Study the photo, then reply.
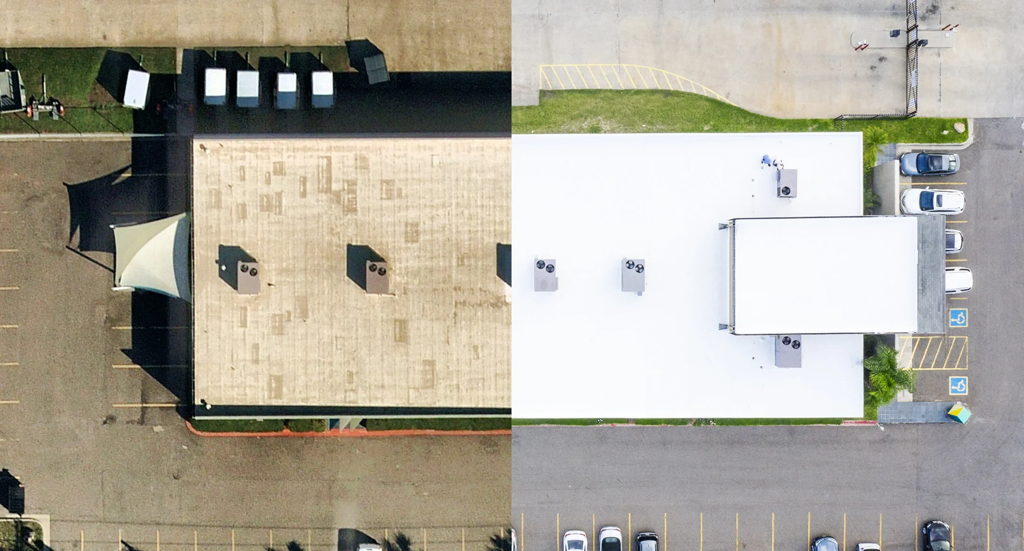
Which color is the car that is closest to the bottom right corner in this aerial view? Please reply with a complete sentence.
The car that is closest to the bottom right corner is black.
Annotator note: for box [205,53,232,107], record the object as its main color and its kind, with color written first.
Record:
white trailer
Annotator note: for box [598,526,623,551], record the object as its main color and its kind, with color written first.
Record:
white car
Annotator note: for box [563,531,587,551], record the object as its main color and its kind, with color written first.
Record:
white car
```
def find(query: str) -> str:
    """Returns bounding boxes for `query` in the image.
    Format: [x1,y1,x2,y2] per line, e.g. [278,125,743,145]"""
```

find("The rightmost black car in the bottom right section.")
[922,521,954,551]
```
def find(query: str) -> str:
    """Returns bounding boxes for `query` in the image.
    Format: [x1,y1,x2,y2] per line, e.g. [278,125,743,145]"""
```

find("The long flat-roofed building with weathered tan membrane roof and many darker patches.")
[191,133,512,418]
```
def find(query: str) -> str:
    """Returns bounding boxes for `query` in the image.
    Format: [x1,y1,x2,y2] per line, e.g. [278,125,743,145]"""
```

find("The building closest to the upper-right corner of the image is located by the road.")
[512,132,945,418]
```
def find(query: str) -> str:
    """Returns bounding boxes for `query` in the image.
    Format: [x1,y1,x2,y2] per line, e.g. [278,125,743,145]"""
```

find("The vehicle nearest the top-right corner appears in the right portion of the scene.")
[901,149,961,177]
